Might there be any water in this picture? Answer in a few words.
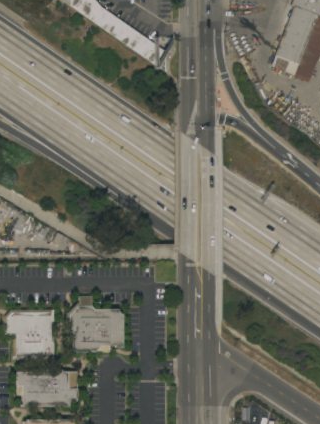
No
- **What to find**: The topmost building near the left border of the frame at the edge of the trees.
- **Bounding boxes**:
[6,310,54,358]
